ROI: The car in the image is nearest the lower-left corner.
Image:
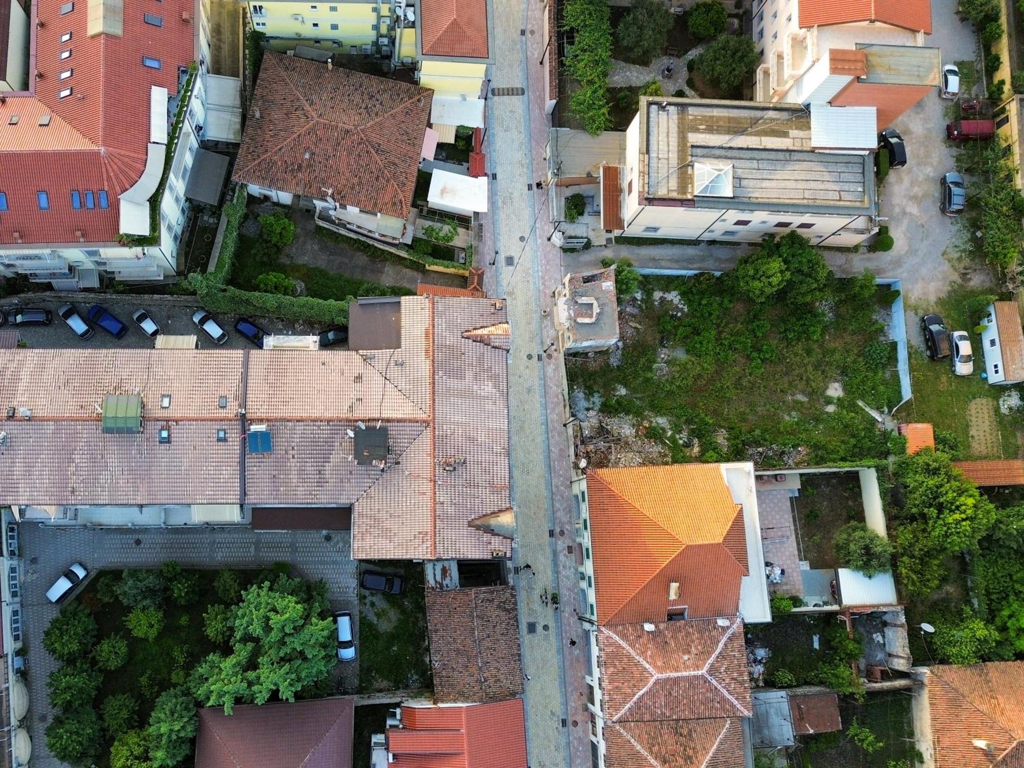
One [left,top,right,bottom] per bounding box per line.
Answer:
[41,561,89,606]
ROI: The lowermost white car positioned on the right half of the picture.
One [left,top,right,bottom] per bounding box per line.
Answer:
[954,332,978,373]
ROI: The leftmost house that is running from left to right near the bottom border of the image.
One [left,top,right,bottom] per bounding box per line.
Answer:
[195,697,355,768]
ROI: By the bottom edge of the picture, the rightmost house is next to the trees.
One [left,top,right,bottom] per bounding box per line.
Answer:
[915,661,1024,768]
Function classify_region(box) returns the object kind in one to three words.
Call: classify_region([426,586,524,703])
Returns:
shed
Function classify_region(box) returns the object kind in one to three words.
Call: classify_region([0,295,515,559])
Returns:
building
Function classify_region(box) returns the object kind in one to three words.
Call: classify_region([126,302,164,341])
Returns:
car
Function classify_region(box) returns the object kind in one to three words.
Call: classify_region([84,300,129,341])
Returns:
car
